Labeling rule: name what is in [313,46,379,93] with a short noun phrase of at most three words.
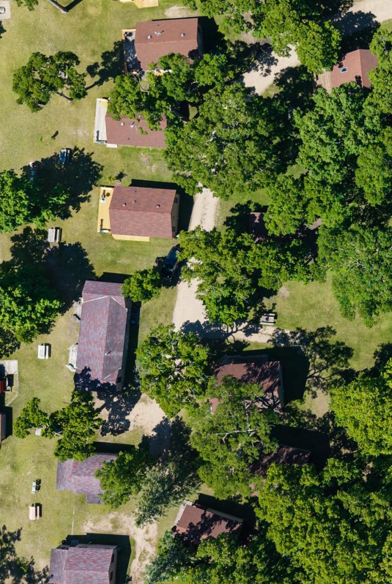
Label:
building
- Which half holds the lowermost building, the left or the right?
left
